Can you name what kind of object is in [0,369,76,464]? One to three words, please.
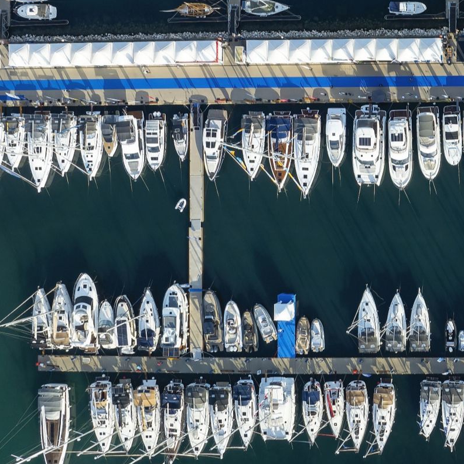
boat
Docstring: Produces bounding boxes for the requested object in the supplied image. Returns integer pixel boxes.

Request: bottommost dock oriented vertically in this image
[277,294,296,357]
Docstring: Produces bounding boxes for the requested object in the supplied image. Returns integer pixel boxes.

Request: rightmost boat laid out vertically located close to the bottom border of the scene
[441,374,464,457]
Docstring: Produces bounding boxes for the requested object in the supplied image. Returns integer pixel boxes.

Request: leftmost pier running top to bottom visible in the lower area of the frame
[189,227,205,350]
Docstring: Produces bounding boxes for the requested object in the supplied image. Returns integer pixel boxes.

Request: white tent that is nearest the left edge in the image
[9,44,37,68]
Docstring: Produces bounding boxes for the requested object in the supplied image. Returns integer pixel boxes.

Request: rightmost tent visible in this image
[420,38,443,65]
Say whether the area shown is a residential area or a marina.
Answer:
marina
